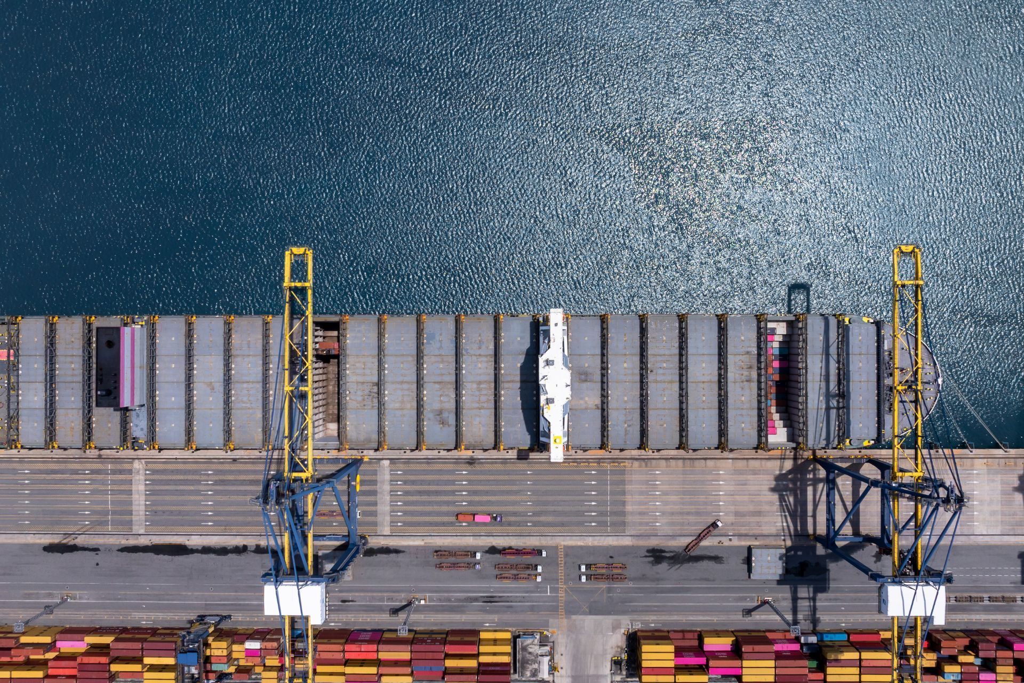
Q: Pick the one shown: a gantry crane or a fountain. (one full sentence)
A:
I can see a gantry crane in this picture.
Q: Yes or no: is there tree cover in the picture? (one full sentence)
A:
No, the scene doesn't show any tree cover.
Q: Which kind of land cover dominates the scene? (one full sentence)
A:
The bulk of the photo consists of water.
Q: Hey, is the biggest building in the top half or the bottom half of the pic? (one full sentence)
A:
It is in the bottom half that the biggest building appears.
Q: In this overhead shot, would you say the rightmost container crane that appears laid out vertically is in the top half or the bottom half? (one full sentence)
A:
It is in the bottom half that the rightmost container crane that appears laid out vertically appears.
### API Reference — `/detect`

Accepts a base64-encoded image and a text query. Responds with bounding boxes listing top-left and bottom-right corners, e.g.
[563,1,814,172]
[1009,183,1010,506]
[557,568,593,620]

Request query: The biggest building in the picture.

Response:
[517,633,539,678]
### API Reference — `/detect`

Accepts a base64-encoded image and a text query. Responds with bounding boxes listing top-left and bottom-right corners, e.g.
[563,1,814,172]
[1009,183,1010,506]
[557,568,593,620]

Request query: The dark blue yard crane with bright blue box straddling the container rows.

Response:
[174,614,232,683]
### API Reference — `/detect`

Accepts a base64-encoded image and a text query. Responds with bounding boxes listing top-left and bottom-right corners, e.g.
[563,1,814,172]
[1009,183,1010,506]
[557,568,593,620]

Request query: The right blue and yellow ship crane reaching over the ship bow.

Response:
[800,246,971,683]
